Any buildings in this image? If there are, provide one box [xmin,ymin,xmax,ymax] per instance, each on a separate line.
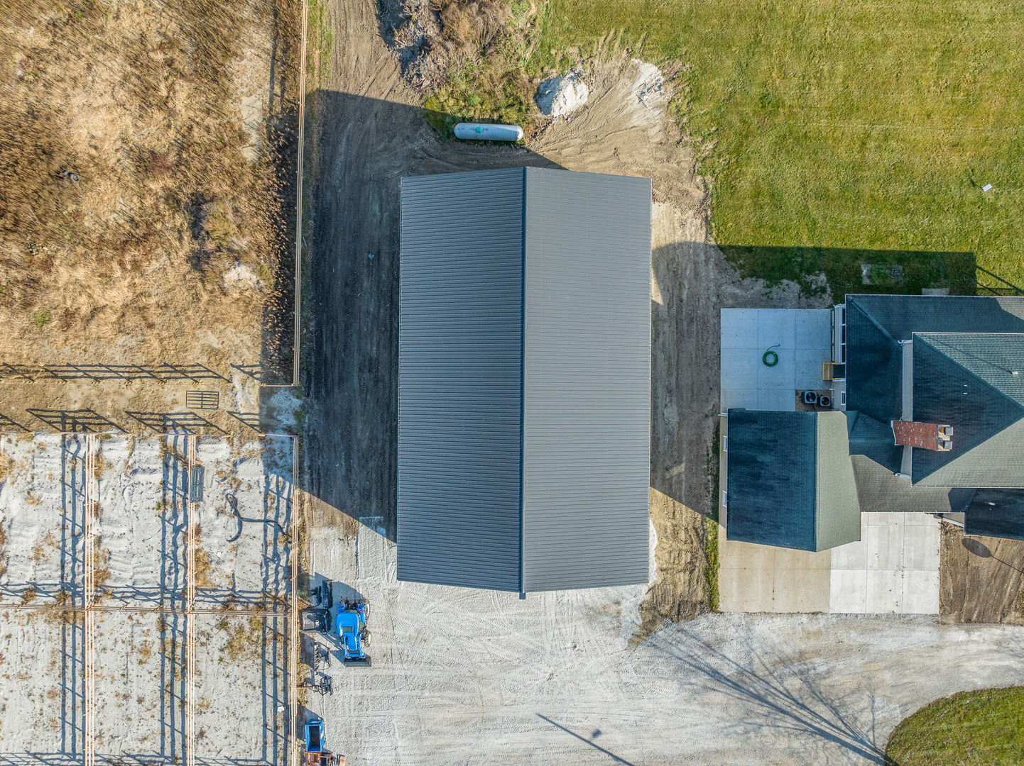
[396,167,653,600]
[714,292,1024,554]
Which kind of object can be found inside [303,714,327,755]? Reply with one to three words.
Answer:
trailer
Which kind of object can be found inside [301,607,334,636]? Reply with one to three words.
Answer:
vehicle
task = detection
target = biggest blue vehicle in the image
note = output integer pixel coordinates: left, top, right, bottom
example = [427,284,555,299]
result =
[334,597,371,664]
